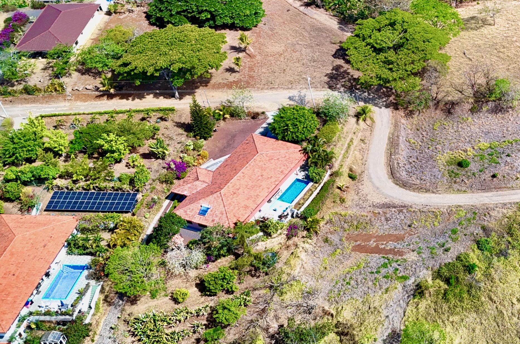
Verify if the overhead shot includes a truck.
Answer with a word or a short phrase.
No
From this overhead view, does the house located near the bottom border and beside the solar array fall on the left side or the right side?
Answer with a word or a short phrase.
left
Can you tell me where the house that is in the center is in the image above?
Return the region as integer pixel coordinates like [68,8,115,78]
[162,136,306,232]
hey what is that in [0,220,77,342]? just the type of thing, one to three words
house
